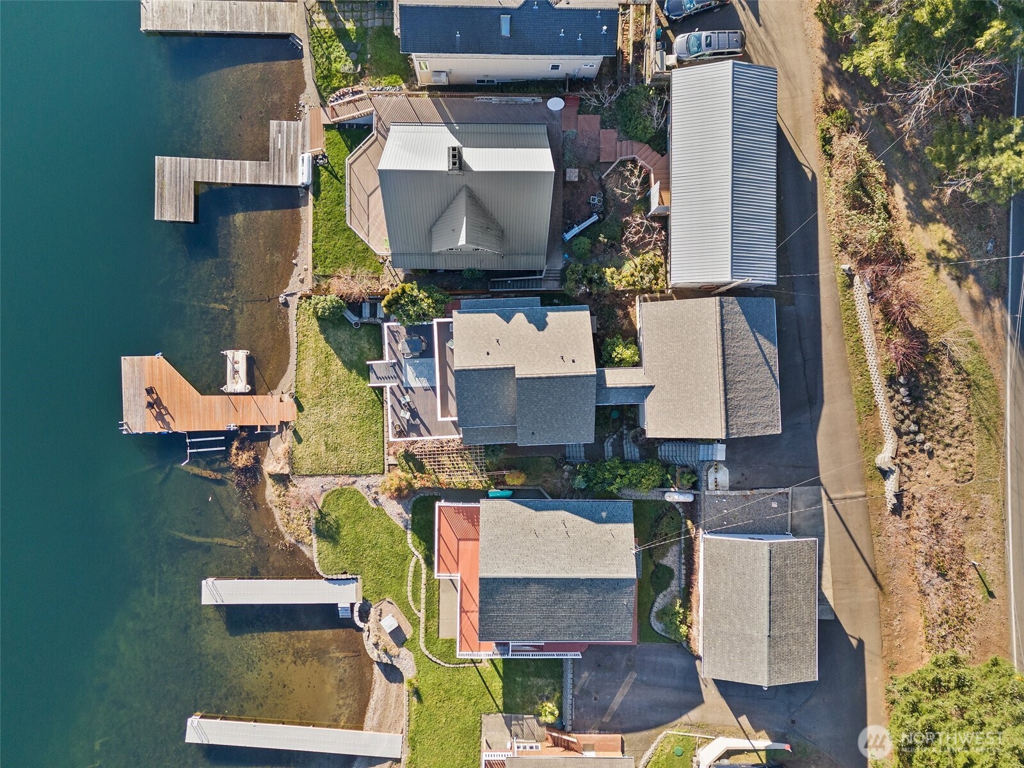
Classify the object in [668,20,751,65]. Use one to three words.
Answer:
vehicle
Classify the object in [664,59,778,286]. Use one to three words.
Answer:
building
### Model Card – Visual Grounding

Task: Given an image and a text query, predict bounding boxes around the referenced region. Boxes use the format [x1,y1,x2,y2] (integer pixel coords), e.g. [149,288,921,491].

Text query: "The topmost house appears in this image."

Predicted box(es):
[398,0,633,96]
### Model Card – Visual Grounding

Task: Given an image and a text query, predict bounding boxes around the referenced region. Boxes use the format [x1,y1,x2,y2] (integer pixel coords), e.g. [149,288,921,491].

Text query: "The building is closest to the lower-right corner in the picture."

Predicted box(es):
[695,530,819,691]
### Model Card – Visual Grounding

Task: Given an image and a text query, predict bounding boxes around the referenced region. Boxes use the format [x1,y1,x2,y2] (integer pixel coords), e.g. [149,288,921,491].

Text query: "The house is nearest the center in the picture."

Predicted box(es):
[453,295,597,448]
